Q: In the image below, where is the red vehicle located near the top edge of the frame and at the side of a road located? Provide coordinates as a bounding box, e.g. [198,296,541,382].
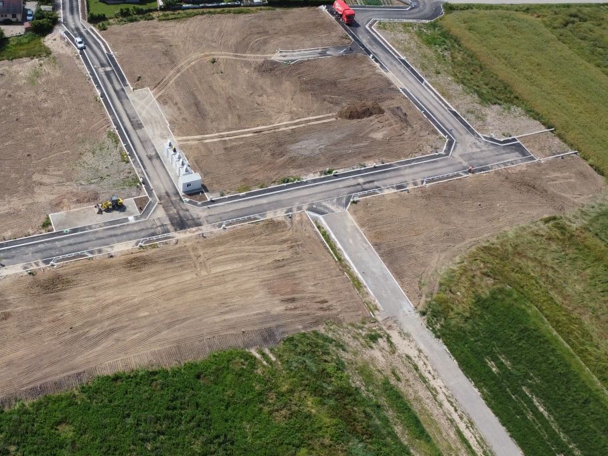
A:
[329,0,360,23]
